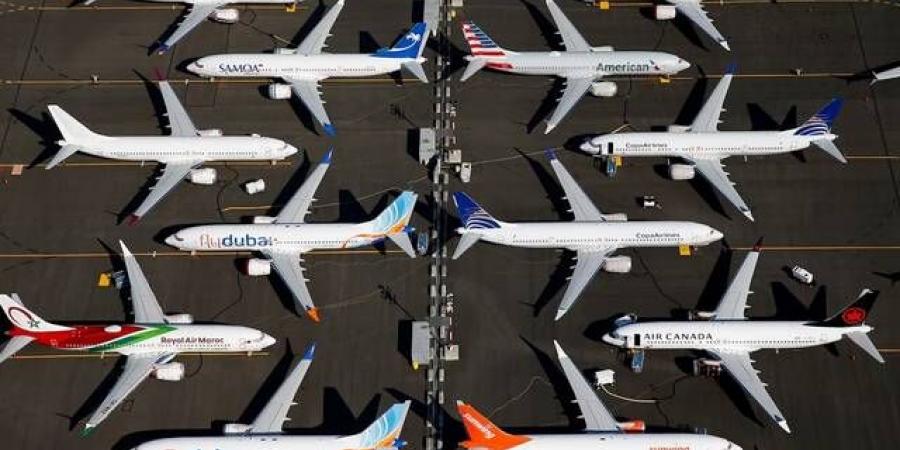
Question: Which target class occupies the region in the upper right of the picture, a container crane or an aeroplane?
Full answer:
The one visible in the upper right of the picture is an aeroplane.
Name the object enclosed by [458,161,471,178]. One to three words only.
vehicle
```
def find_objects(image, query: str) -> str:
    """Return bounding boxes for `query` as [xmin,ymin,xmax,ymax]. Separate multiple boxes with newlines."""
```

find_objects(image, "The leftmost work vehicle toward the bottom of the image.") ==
[96,272,111,286]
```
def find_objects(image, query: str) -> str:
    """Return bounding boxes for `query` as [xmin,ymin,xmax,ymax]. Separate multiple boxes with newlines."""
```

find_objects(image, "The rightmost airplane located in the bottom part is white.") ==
[601,245,883,428]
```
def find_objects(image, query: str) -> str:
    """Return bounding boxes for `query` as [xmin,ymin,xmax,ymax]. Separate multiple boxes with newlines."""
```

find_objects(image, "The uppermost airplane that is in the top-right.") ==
[654,0,726,49]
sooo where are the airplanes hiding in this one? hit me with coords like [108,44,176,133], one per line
[163,155,420,318]
[579,69,846,217]
[461,0,692,131]
[185,0,431,133]
[451,154,725,317]
[147,0,294,52]
[654,0,726,49]
[0,249,276,431]
[869,68,900,84]
[46,75,298,222]
[127,348,415,450]
[454,348,742,450]
[601,245,883,428]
